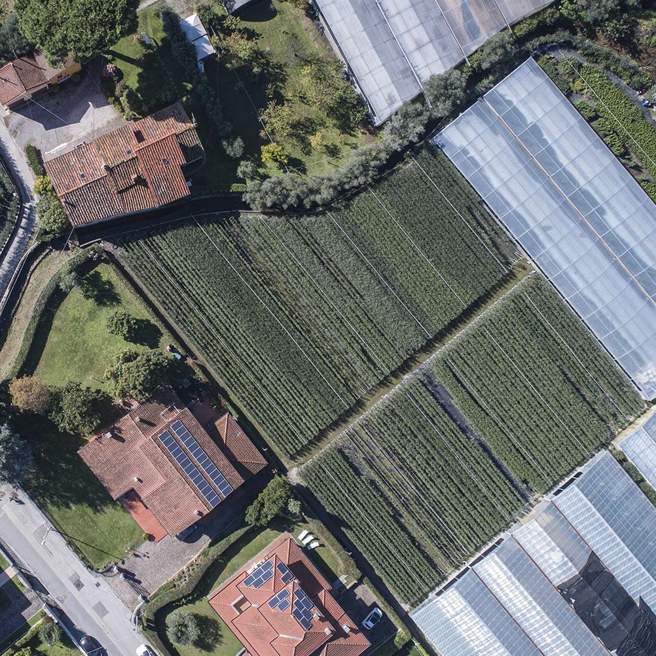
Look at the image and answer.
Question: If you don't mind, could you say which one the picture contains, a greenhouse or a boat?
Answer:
greenhouse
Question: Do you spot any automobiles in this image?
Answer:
Yes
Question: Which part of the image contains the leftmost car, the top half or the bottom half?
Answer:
bottom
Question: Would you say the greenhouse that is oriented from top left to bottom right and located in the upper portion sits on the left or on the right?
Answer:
right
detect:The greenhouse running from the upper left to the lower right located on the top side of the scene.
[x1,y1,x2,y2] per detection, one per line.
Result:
[429,57,656,401]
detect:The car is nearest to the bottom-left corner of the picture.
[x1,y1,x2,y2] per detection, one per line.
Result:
[77,633,107,656]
